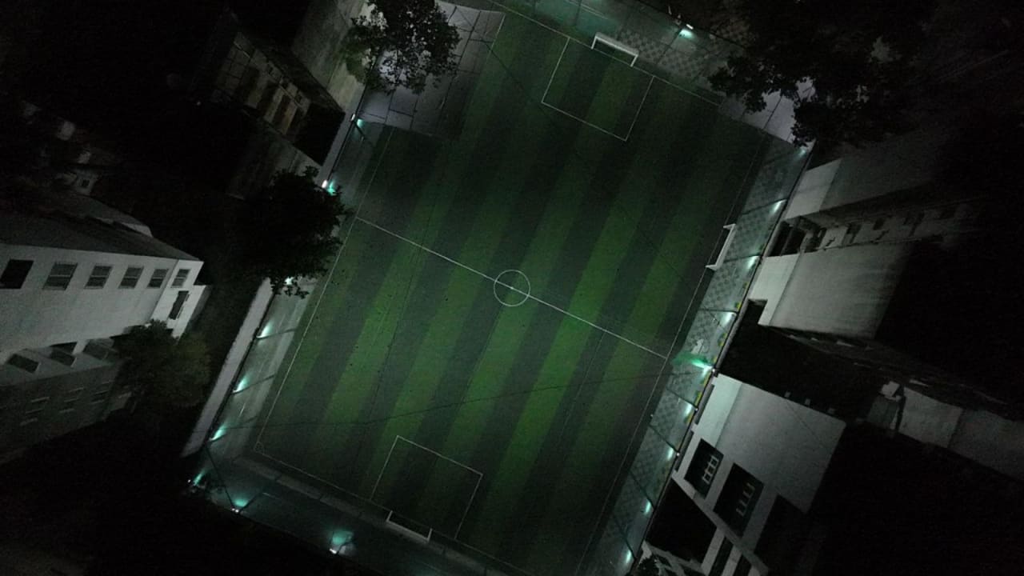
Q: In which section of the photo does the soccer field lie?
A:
center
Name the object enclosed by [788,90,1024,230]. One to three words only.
building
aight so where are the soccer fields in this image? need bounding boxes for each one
[237,0,782,576]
